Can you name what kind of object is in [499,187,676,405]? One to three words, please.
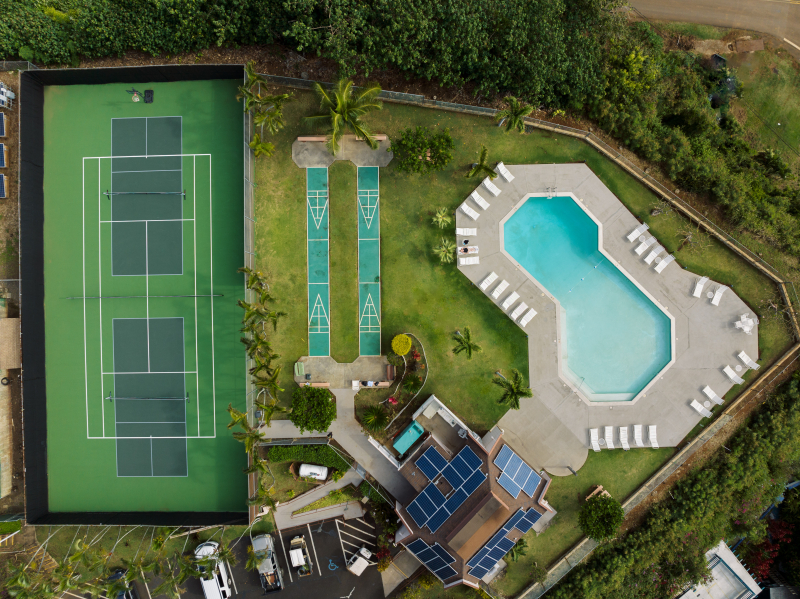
swimming pool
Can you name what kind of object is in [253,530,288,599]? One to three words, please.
truck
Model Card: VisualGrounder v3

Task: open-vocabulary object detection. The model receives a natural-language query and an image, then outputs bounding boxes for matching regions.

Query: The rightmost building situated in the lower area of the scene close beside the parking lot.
[394,423,555,592]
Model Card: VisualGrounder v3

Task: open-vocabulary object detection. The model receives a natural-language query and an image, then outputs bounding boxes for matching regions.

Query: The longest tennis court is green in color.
[44,80,251,512]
